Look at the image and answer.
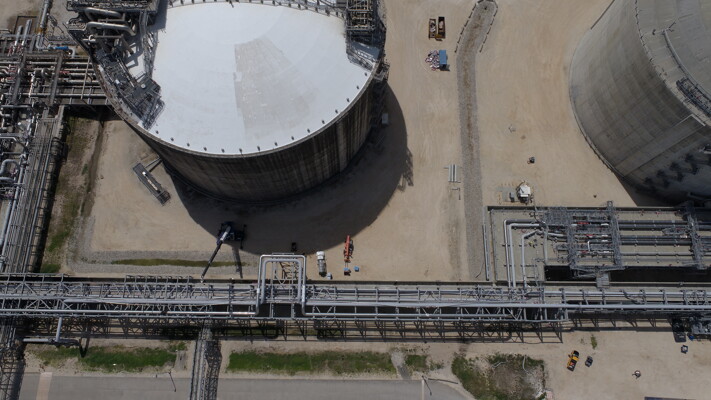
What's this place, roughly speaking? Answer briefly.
industrial area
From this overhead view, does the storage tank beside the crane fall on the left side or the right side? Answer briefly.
left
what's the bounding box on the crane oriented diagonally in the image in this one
[200,221,249,281]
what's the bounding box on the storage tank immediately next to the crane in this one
[61,0,396,209]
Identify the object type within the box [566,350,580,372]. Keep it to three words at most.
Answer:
vehicle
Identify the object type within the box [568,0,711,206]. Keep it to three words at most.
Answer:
storage tank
